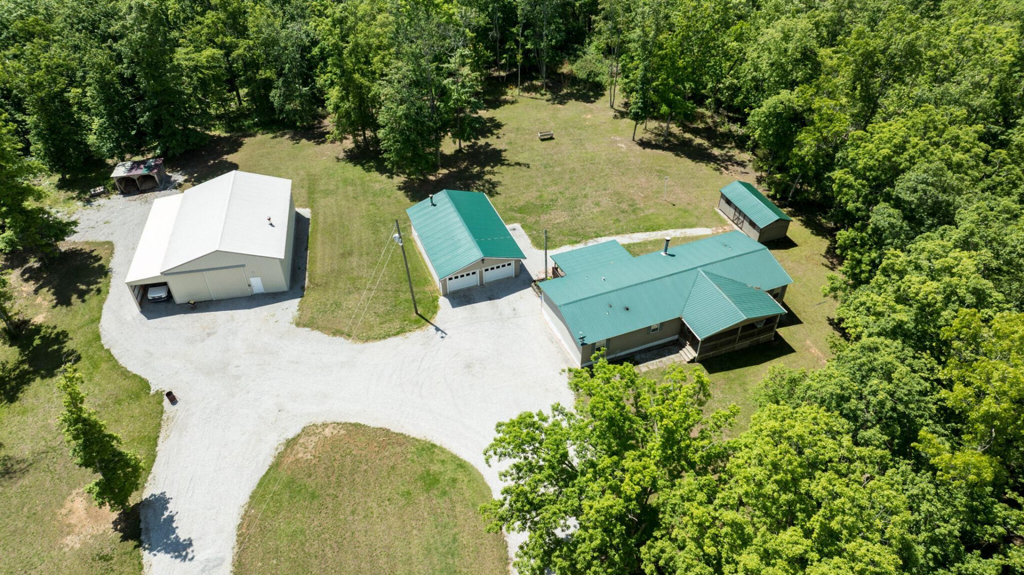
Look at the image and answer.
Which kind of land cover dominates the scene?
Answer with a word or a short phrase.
trees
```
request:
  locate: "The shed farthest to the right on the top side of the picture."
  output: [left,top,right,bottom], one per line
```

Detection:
[712,181,793,243]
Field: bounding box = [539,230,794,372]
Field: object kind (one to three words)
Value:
house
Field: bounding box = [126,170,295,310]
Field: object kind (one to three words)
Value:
barn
